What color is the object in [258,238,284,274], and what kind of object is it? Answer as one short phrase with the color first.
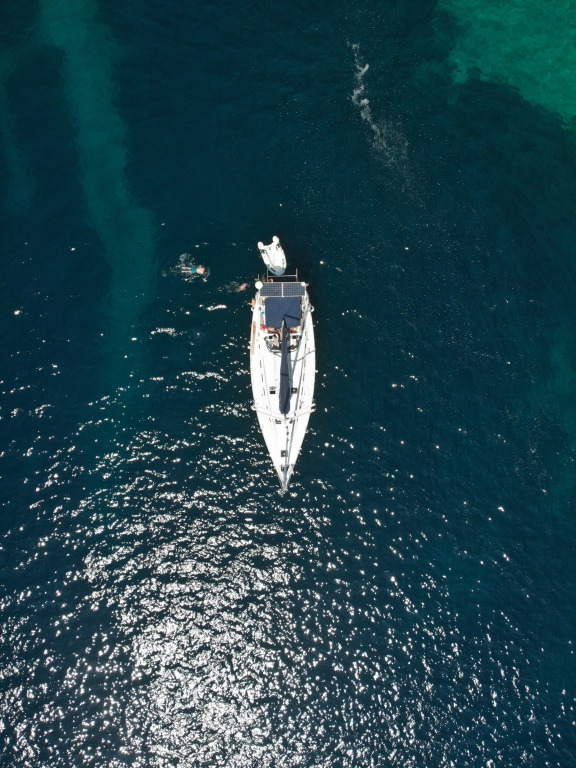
white boat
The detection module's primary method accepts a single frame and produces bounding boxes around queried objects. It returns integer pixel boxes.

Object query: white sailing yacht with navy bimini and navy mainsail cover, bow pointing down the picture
[250,268,318,495]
